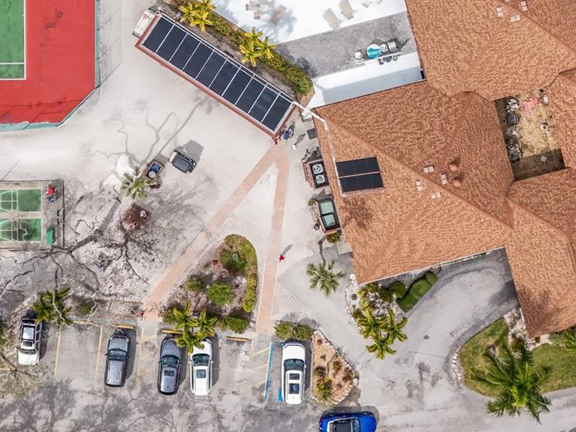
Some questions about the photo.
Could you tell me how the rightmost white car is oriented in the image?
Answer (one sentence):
From this overhead view, the rightmost white car appears to run vertically.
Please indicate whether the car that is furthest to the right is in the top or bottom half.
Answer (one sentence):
It is in the bottom half that the car that is furthest to the right appears.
